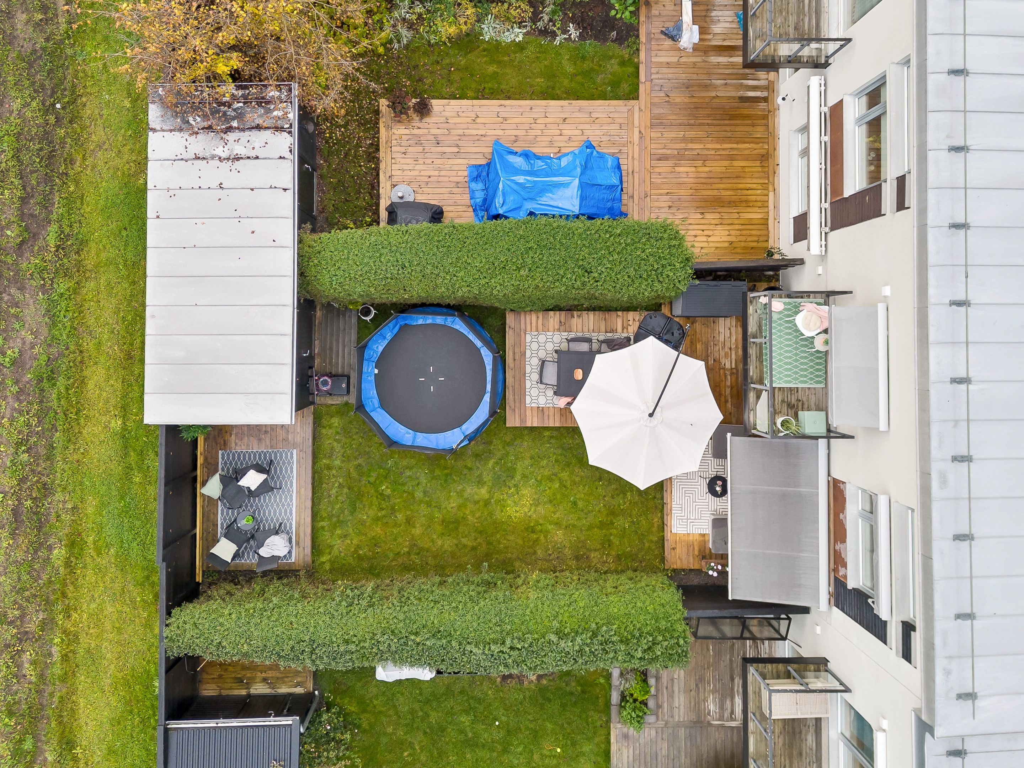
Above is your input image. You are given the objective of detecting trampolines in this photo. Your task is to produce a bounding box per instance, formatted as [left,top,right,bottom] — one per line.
[349,305,504,461]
